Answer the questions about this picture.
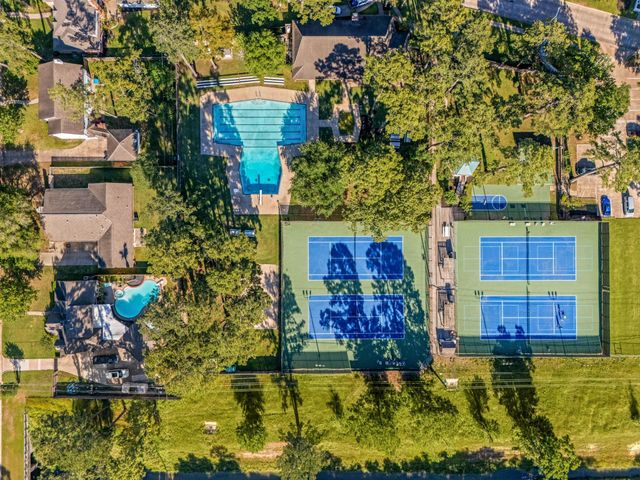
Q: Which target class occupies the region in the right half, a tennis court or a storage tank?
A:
tennis court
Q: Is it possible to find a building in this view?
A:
Yes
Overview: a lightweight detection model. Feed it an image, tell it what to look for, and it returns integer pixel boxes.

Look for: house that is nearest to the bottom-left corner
[46,281,102,343]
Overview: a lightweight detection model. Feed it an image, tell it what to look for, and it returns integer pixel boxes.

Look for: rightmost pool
[213,90,307,196]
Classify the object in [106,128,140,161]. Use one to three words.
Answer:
building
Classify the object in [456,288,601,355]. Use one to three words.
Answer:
tennis court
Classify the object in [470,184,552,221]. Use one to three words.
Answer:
basketball court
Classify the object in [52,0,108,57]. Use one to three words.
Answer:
house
